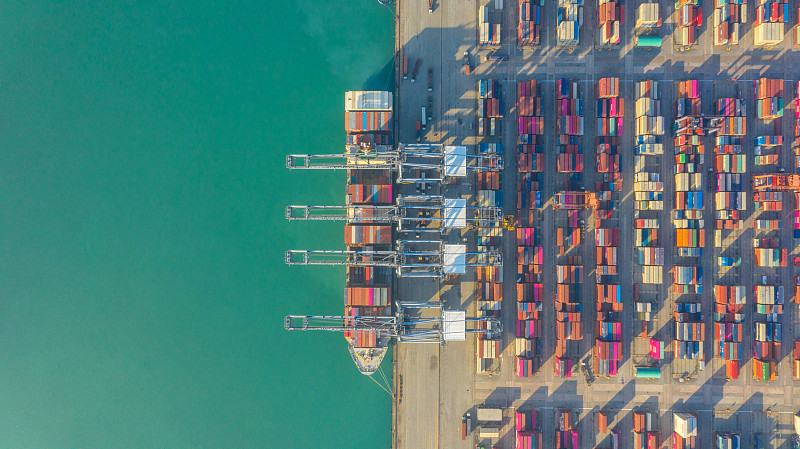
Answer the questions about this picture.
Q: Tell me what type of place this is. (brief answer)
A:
port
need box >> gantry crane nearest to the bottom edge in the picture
[286,293,502,345]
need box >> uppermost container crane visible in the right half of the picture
[674,113,727,137]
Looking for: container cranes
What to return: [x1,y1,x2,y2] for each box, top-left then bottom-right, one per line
[288,141,503,190]
[286,234,503,280]
[286,293,502,345]
[287,192,503,235]
[553,192,604,212]
[755,173,800,194]
[674,113,727,137]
